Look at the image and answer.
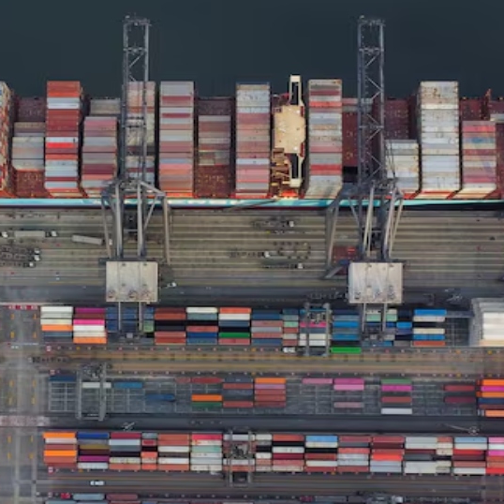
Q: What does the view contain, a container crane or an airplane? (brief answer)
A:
container crane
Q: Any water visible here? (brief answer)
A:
Yes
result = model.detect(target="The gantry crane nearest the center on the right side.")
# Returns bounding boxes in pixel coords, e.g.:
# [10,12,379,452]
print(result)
[293,300,332,357]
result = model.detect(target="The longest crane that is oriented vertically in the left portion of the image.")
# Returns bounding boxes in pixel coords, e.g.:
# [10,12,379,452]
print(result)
[101,15,173,337]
